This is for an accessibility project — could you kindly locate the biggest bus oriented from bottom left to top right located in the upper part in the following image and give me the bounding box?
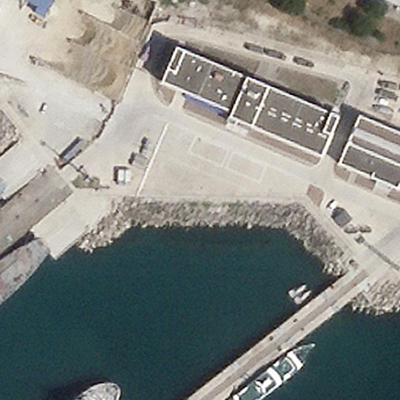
[61,139,82,162]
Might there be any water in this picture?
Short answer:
Yes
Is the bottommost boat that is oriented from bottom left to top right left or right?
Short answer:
right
